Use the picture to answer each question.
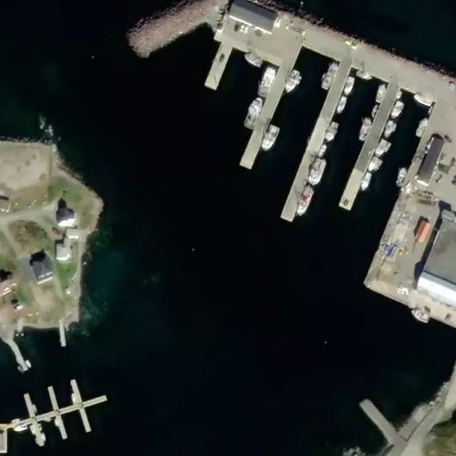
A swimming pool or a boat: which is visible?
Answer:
boat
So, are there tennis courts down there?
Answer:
No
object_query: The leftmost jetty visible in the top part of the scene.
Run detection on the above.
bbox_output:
[205,42,233,90]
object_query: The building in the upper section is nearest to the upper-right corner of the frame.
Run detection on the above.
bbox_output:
[416,137,446,186]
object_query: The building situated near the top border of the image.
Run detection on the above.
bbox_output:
[228,0,278,34]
